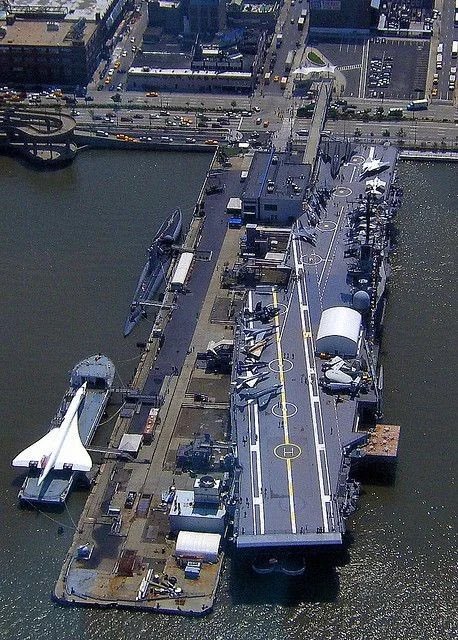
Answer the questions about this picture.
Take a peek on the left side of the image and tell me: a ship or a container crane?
ship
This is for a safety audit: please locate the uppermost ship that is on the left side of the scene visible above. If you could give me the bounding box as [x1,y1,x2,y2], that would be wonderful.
[122,208,177,336]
